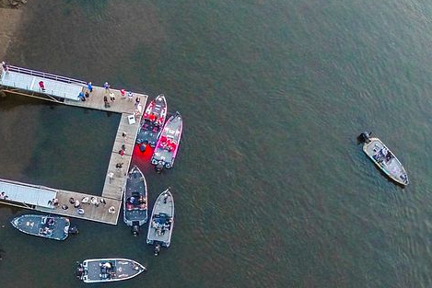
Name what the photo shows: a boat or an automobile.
boat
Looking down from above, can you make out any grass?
No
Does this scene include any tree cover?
No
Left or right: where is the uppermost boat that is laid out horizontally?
left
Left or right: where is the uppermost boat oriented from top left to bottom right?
right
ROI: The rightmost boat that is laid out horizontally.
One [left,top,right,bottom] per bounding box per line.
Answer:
[75,258,145,282]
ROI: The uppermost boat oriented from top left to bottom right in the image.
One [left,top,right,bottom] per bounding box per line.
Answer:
[357,131,408,186]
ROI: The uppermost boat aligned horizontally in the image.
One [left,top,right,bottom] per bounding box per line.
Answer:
[11,214,75,239]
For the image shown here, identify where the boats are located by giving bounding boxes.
[124,166,147,232]
[357,131,408,186]
[138,94,165,152]
[149,186,175,253]
[11,214,75,239]
[154,113,183,173]
[75,258,145,282]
